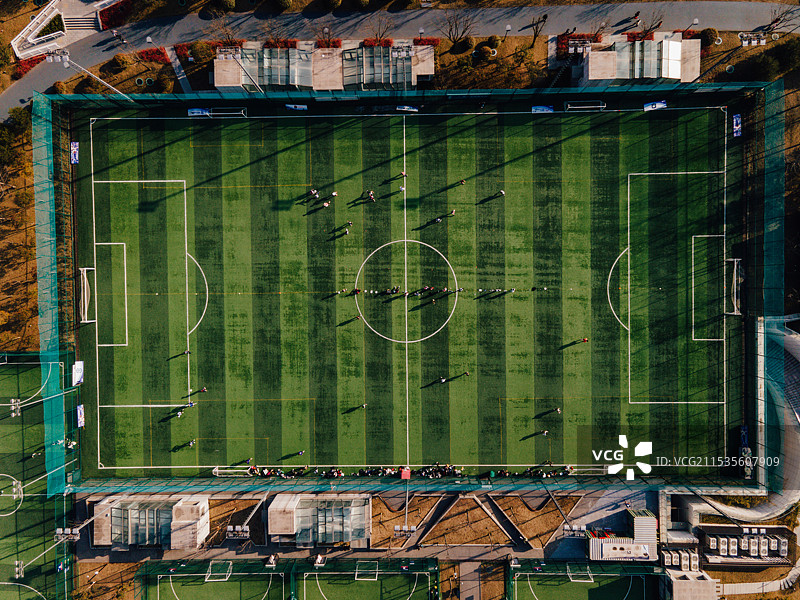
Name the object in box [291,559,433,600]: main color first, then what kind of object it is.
green soccer field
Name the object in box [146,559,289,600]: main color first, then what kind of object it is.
green soccer field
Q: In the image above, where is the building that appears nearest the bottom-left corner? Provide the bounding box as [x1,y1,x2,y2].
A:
[94,495,209,553]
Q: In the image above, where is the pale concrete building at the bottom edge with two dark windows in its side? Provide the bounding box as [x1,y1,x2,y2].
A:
[662,568,721,600]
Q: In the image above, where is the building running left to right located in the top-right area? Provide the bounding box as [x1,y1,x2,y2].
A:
[570,39,701,89]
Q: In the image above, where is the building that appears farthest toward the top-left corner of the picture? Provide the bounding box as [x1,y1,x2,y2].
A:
[207,45,434,96]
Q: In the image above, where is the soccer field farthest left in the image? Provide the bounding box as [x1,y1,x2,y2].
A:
[0,356,82,600]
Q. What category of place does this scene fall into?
sports ground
